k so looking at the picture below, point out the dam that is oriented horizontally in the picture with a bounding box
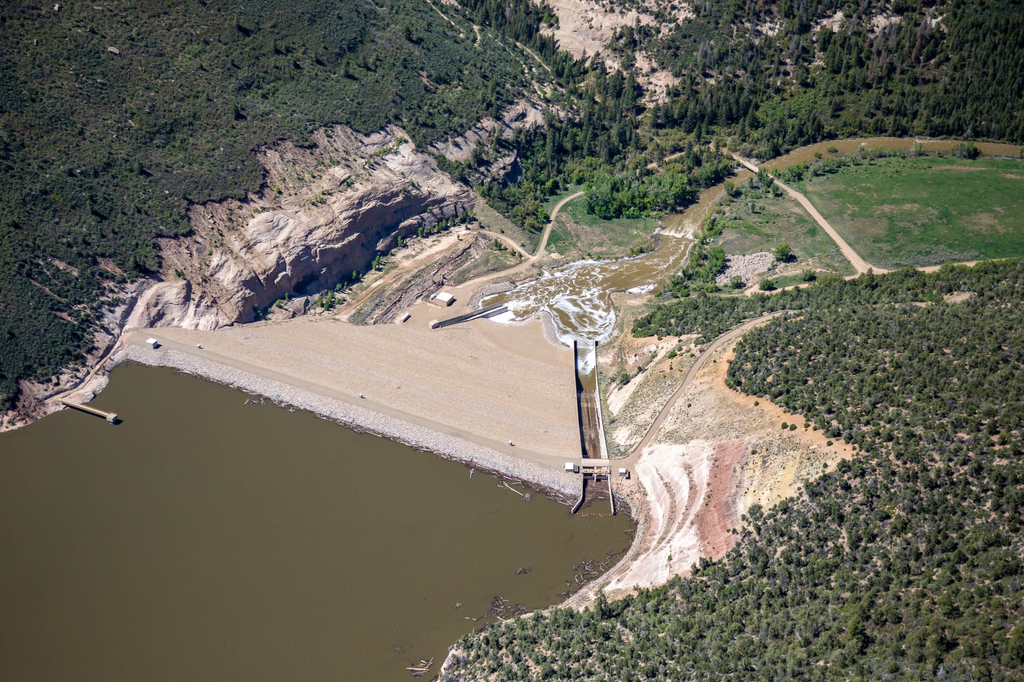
[118,317,582,508]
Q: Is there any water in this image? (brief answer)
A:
Yes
